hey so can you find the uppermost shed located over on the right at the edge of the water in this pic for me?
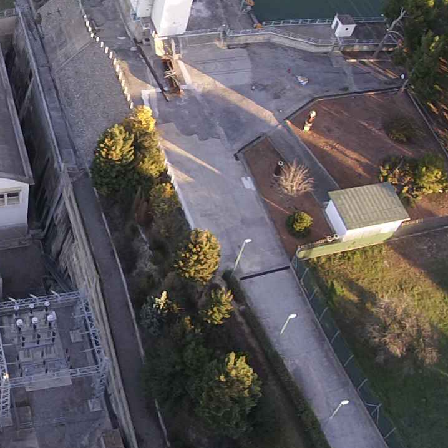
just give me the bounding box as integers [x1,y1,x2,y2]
[328,13,360,41]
